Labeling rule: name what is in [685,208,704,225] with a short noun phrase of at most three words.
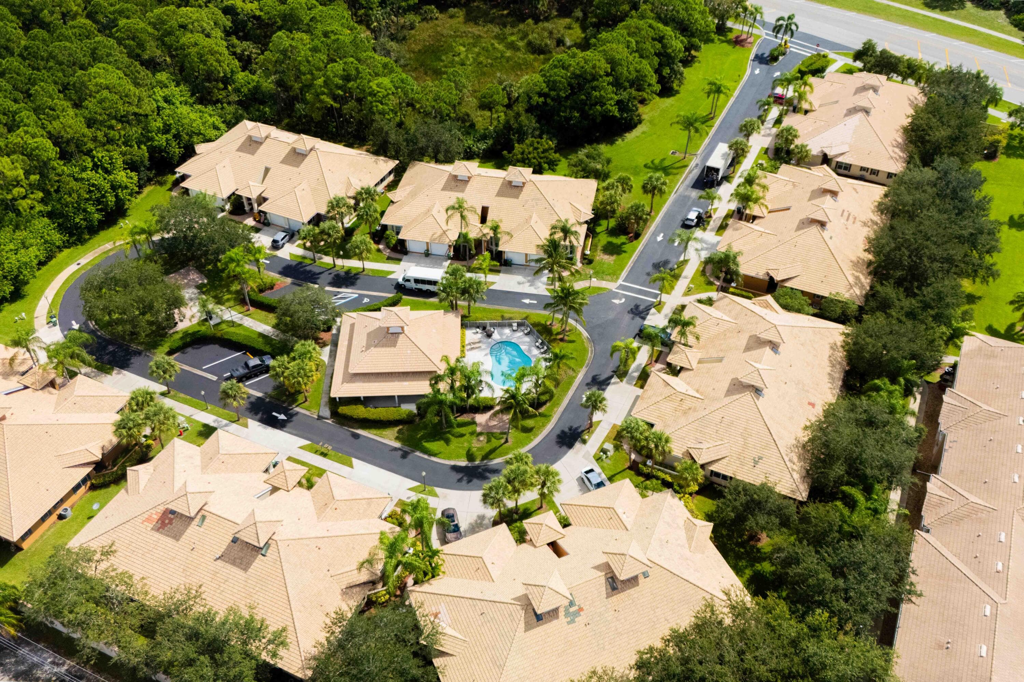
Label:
car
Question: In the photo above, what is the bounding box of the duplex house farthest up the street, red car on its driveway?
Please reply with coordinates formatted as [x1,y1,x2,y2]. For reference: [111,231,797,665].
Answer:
[787,72,918,177]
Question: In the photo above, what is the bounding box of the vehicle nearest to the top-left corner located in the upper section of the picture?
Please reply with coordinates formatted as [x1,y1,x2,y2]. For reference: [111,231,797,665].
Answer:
[269,229,295,248]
